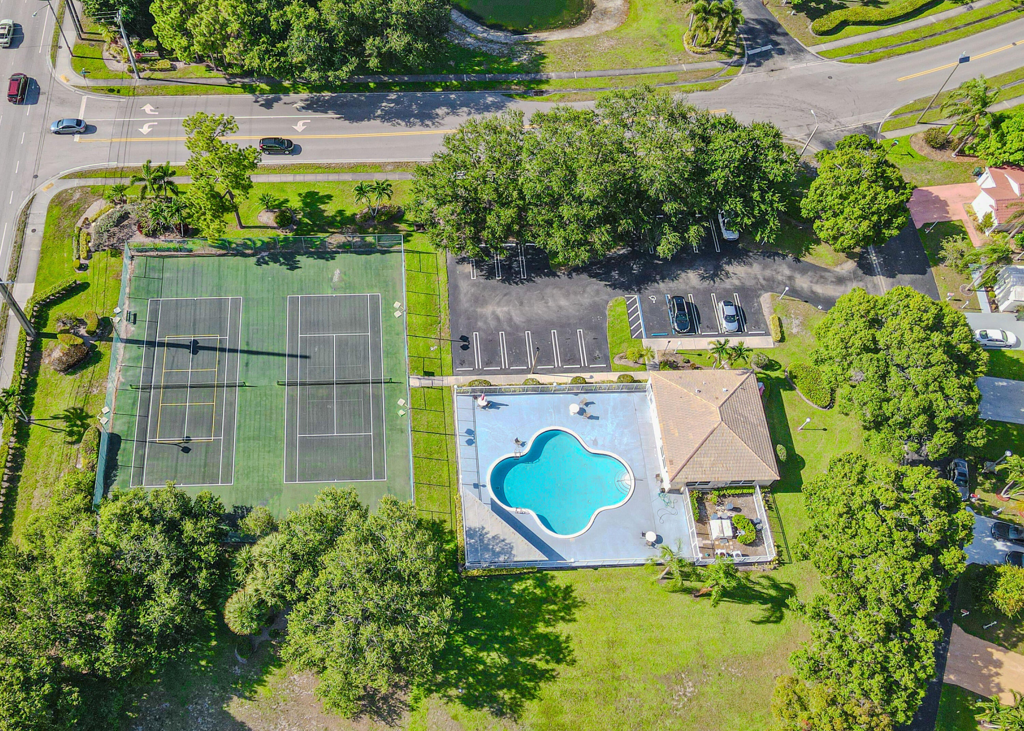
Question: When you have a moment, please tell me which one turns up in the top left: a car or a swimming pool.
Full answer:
Visible in the top left is a car.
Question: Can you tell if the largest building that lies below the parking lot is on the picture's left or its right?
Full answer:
It is on the right.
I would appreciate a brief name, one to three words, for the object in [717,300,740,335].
car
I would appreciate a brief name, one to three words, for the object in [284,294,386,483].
tennis court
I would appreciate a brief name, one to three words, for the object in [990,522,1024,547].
car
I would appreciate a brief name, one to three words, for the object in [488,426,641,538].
swimming pool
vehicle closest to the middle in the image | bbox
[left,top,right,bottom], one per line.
[668,297,692,334]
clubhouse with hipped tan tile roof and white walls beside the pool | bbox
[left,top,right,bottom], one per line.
[647,368,781,490]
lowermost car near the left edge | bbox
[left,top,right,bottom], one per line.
[50,118,87,136]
